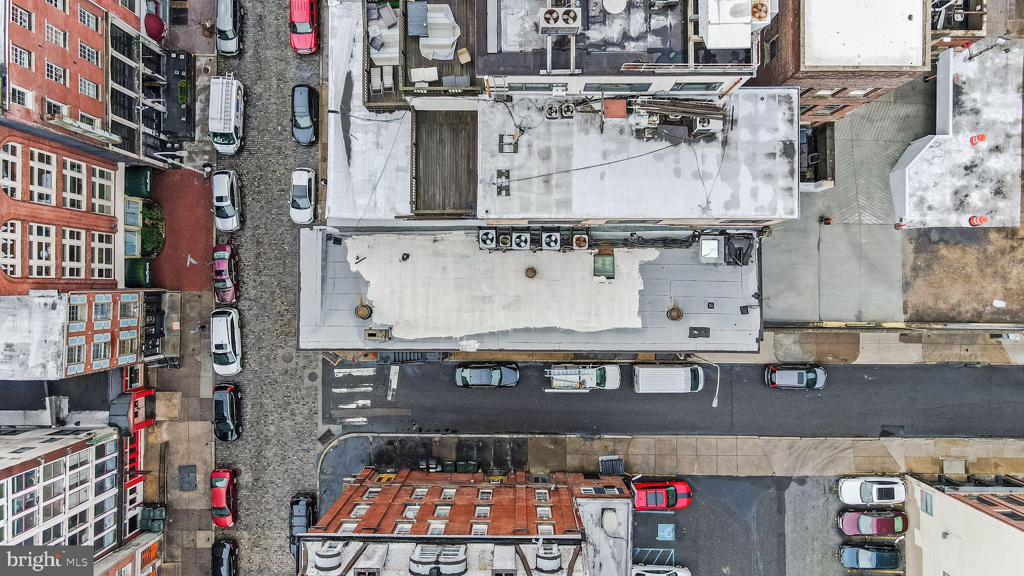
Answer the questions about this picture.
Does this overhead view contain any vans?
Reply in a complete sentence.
Yes, a van is visible in the scene.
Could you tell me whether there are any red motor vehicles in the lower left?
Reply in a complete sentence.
Yes, a red motor vehicle appears in the lower left.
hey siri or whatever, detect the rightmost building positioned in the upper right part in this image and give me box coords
[886,41,1023,230]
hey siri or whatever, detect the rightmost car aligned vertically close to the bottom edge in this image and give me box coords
[286,494,318,557]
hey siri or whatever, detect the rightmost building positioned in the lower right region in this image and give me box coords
[905,475,1024,576]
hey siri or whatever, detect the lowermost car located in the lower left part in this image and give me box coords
[210,539,241,576]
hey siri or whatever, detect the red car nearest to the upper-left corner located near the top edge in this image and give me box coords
[285,0,318,56]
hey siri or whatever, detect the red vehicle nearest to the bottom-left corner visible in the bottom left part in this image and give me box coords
[206,467,238,527]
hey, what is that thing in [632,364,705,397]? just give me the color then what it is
white van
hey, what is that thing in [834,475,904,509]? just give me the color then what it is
white car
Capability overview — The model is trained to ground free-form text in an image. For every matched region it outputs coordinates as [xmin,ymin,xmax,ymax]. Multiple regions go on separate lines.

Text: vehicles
[632,364,705,397]
[286,82,318,146]
[206,467,238,527]
[210,75,248,155]
[763,362,826,393]
[208,167,241,232]
[286,494,318,557]
[838,541,903,573]
[634,563,689,576]
[209,381,243,442]
[210,539,241,576]
[630,481,691,515]
[211,0,245,59]
[838,508,908,539]
[454,361,519,391]
[834,475,904,509]
[286,163,317,224]
[547,363,622,395]
[285,0,318,56]
[208,306,243,376]
[207,242,238,303]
